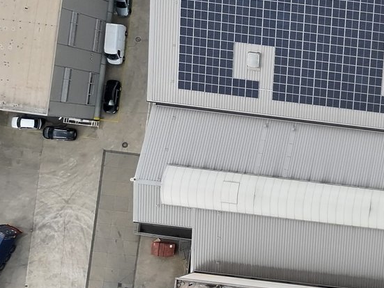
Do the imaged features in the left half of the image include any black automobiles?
Yes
